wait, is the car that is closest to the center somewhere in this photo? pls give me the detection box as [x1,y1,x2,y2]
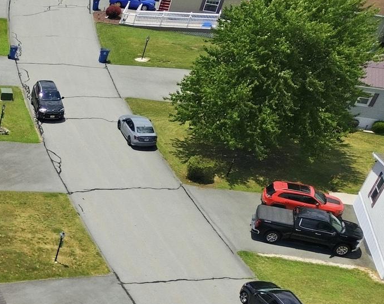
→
[117,111,158,147]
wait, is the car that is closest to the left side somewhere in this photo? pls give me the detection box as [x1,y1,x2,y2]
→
[31,77,66,120]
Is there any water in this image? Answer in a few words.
No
